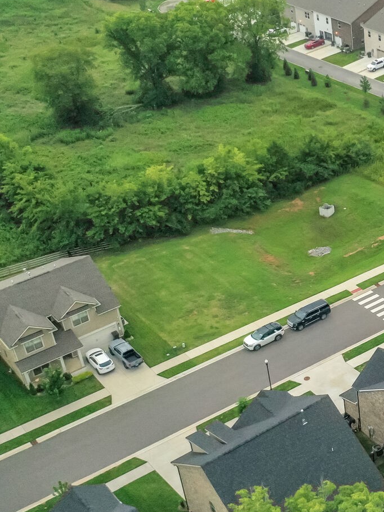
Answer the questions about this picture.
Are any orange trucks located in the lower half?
No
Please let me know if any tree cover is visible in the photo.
Yes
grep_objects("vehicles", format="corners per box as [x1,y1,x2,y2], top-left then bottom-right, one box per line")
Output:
[109,340,144,371]
[243,323,286,353]
[88,350,116,377]
[366,56,384,71]
[304,37,327,48]
[287,302,333,334]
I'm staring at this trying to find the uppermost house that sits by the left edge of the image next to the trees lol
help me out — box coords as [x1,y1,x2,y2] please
[0,254,131,390]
